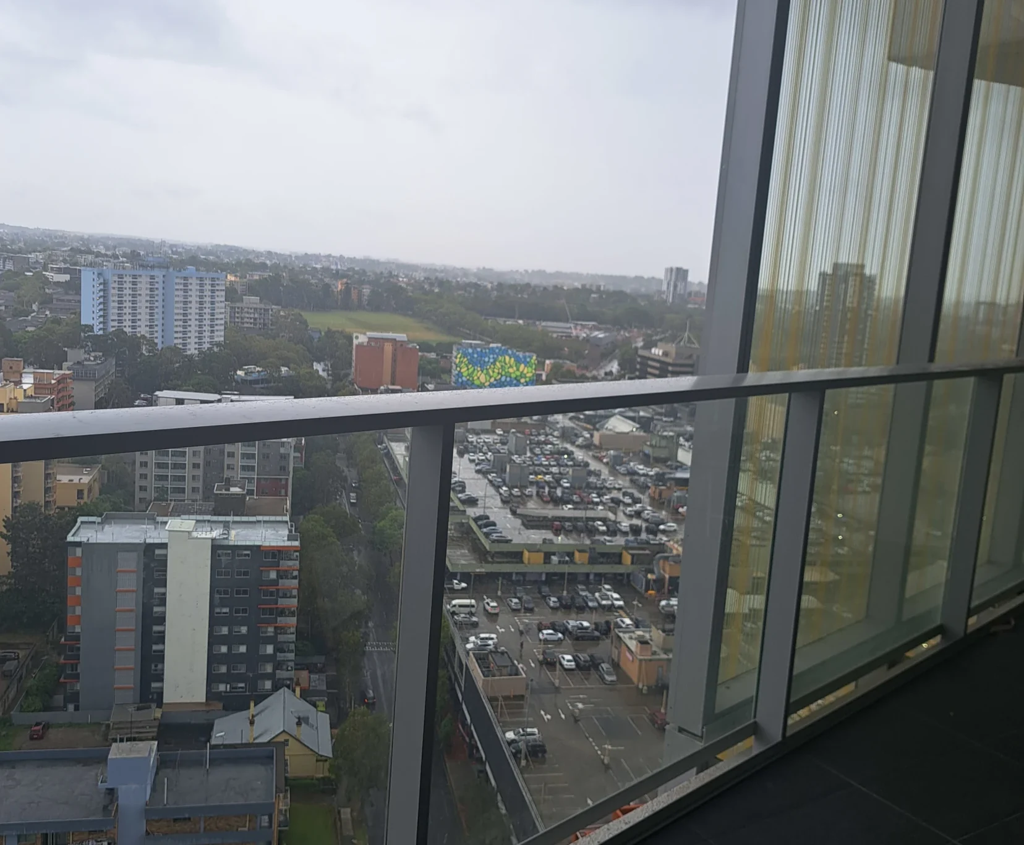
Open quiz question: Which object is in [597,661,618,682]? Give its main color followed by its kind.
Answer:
gray car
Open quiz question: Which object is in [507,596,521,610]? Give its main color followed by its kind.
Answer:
gray car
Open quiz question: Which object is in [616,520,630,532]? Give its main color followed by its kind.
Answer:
gray vehicle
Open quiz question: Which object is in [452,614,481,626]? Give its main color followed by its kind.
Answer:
gray vehicle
